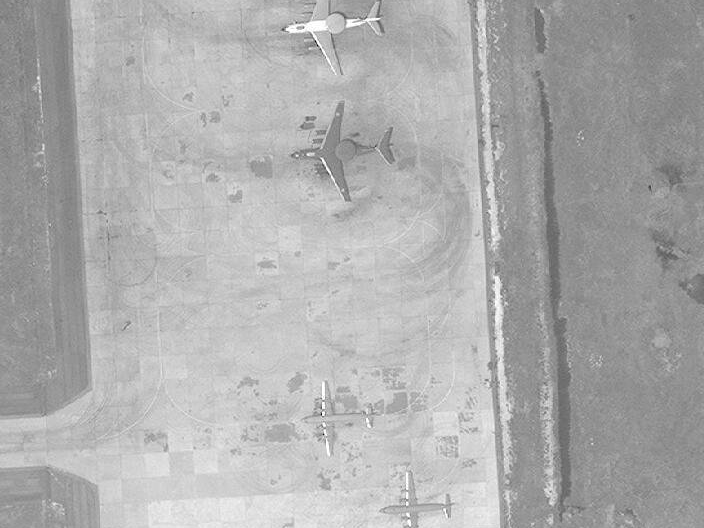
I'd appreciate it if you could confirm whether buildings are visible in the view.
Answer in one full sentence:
No, the frame has no building in it.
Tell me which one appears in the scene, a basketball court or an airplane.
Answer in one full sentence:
The one in the frame is an airplane.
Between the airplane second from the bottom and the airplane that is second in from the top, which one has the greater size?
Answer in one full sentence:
Compared with the airplane second from the bottom, the airplane that is second in from the top is the bigger one.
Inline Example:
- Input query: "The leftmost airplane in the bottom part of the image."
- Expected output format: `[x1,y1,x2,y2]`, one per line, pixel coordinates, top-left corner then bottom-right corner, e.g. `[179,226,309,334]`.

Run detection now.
[302,380,375,456]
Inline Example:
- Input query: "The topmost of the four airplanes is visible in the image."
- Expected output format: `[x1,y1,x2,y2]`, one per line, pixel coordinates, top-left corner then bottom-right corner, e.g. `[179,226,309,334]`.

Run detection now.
[282,0,383,75]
